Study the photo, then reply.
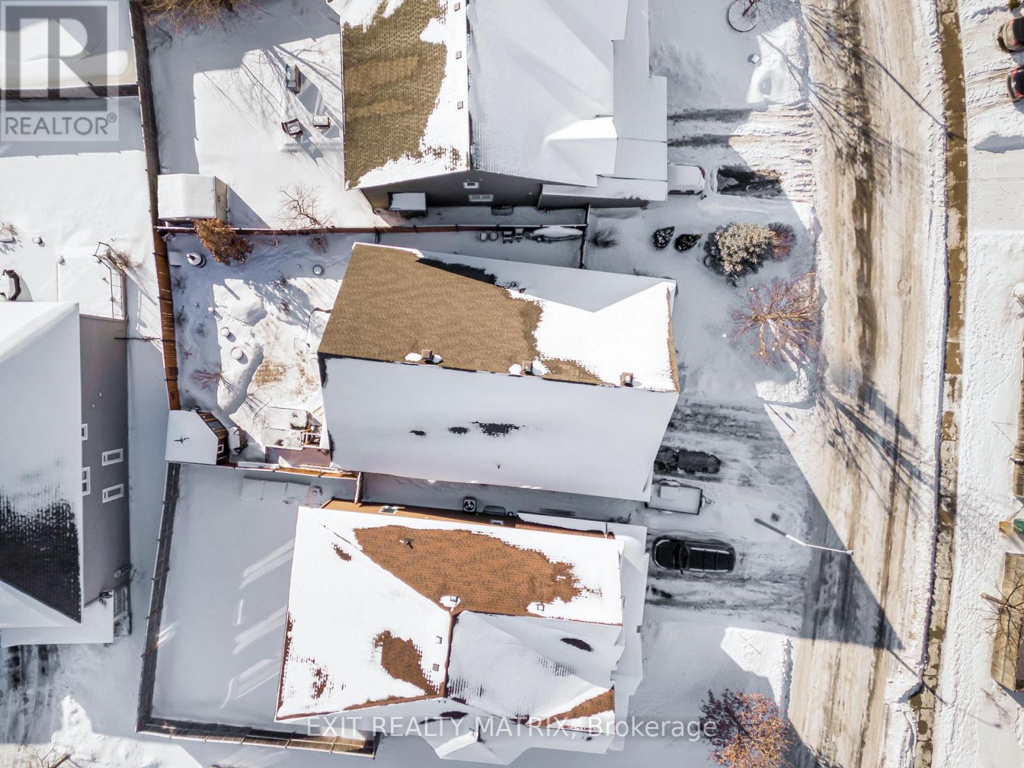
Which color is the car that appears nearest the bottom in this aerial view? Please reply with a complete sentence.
In this view, the car that appears nearest the bottom is black.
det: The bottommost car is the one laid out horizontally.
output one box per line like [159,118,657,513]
[651,534,736,576]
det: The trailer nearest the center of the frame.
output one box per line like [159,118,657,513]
[652,476,726,519]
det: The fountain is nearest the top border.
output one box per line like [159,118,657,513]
[183,249,205,268]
